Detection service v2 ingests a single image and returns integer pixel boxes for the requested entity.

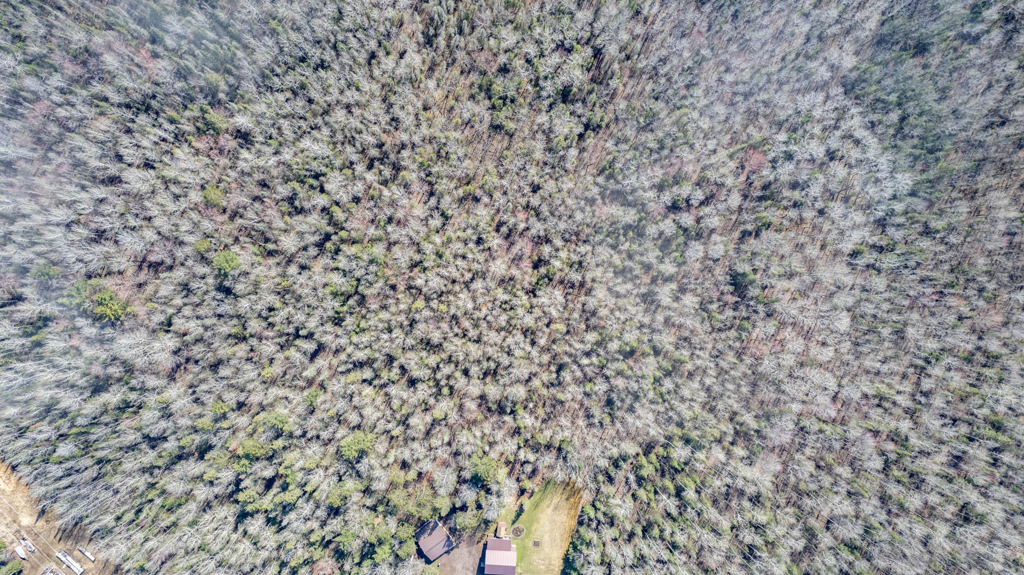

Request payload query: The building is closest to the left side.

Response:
[416,519,455,559]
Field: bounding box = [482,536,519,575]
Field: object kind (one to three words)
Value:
house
